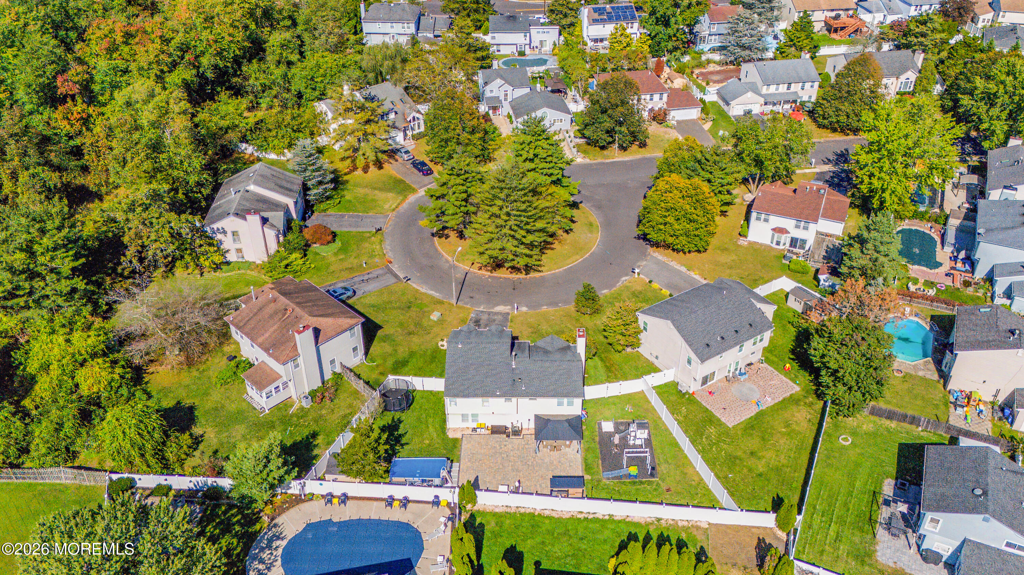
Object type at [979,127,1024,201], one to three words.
house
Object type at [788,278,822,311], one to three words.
shed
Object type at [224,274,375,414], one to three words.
house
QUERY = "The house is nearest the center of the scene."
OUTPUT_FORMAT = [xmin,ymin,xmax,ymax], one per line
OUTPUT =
[444,322,588,429]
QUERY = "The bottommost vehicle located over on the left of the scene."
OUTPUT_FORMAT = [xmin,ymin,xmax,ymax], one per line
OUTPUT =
[329,284,358,301]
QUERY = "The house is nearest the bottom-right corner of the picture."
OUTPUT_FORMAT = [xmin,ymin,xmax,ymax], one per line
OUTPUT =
[910,445,1024,575]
